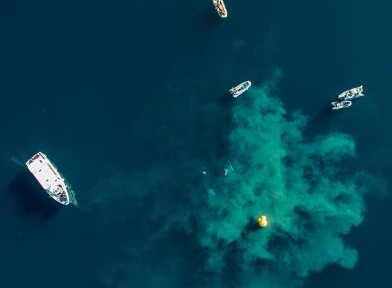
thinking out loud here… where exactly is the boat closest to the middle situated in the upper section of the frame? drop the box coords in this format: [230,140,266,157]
[228,81,251,96]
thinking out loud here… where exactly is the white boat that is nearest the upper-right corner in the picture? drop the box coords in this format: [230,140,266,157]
[338,82,366,98]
